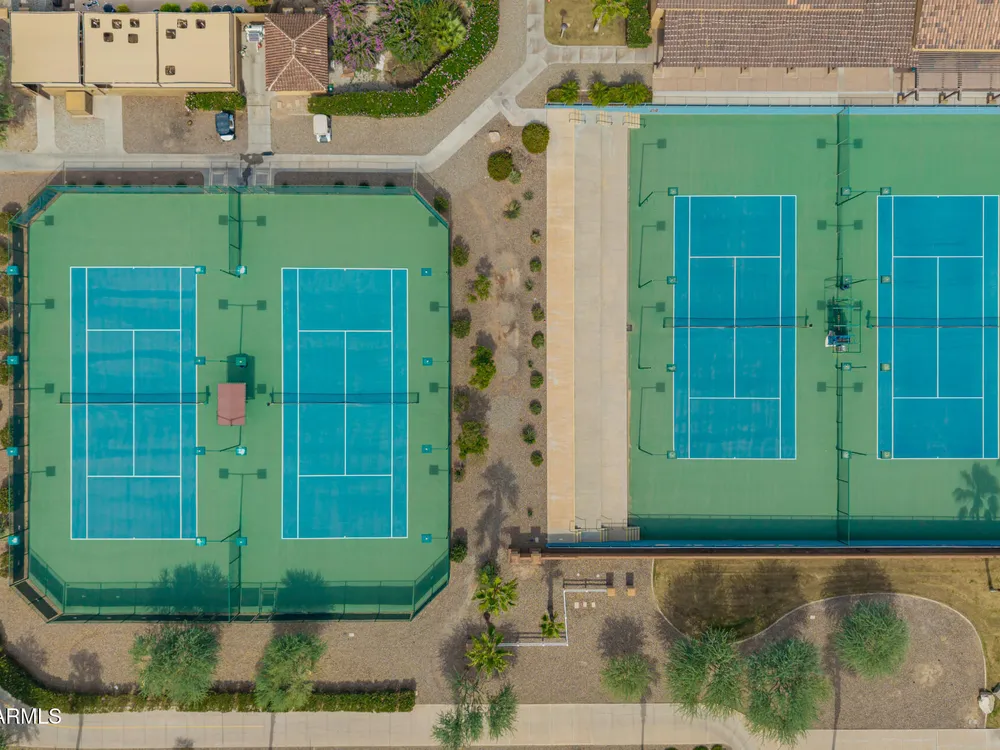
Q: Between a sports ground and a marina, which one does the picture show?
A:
sports ground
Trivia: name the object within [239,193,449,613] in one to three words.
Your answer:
tennis court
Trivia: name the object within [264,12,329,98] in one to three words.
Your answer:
building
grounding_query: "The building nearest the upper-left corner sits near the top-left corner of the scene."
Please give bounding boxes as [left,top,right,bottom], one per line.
[10,11,96,107]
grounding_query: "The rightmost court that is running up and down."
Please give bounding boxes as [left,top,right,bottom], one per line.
[837,115,1000,540]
